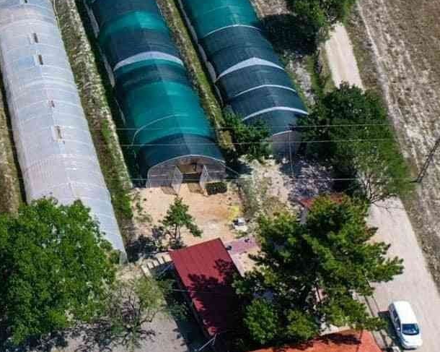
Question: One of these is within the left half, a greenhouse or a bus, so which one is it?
greenhouse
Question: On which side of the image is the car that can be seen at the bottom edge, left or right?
right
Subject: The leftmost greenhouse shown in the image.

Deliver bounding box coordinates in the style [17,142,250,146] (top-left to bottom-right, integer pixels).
[0,0,132,264]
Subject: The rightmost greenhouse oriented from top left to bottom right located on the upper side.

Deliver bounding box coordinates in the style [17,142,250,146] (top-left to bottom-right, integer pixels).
[181,0,325,156]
